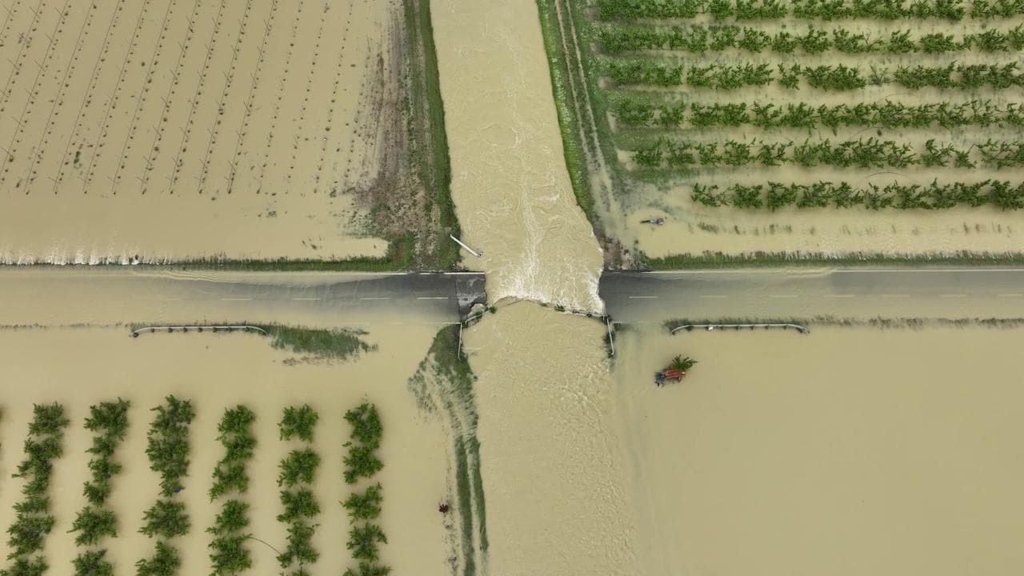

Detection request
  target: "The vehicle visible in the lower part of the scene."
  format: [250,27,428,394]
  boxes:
[655,369,686,386]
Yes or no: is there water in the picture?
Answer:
Yes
